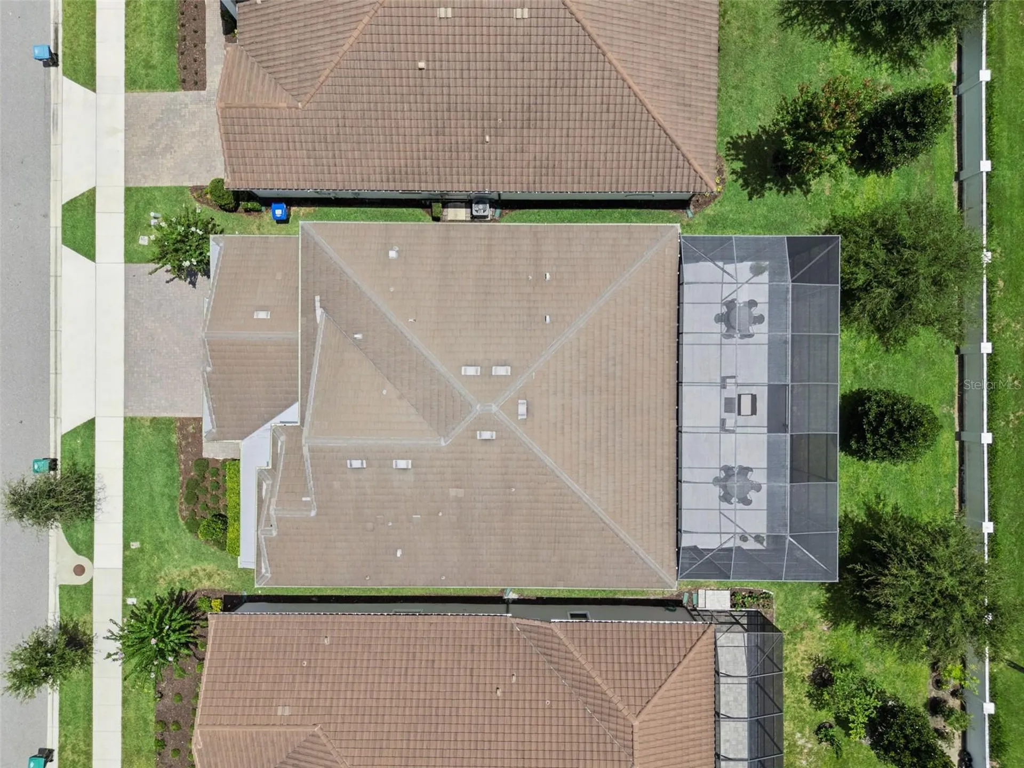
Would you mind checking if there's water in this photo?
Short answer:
No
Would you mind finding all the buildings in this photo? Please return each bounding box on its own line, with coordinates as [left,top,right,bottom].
[215,0,720,202]
[202,221,683,592]
[191,600,718,768]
